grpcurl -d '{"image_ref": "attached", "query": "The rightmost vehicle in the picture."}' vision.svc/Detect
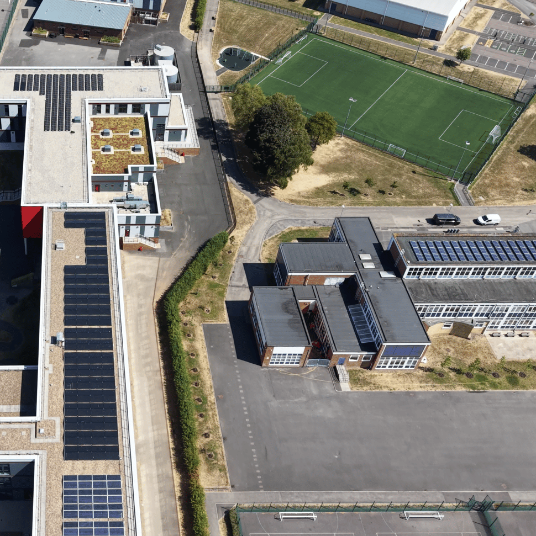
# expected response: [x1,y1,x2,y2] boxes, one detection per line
[477,212,506,226]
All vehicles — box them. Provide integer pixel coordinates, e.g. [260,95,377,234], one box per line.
[433,212,464,227]
[477,212,506,226]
